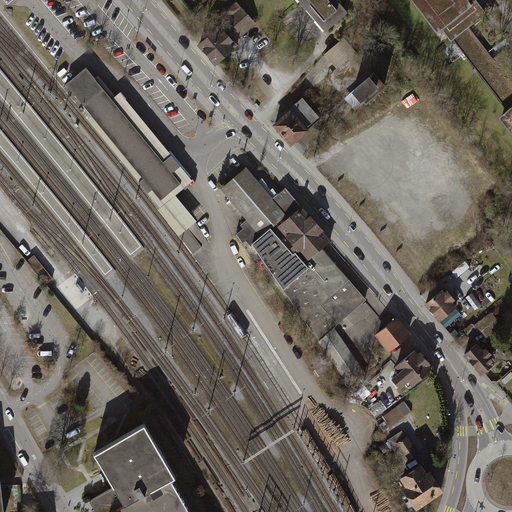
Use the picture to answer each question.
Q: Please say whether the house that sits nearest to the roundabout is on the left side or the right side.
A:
right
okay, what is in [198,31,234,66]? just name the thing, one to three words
house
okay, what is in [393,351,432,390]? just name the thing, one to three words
house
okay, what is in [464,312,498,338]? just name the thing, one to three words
building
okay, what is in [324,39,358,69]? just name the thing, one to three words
building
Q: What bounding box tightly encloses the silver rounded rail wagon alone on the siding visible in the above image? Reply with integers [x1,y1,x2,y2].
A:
[228,307,248,336]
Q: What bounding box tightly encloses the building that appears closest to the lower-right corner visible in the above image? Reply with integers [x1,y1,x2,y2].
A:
[400,464,444,511]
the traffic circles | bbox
[466,440,512,512]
